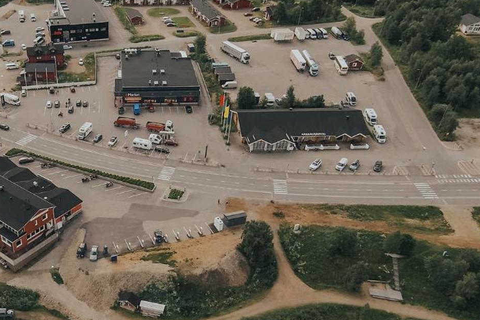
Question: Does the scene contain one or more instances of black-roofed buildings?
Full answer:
Yes, you can see a black-roofed building in this photo.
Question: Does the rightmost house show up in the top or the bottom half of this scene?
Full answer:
It is in the top half that the rightmost house appears.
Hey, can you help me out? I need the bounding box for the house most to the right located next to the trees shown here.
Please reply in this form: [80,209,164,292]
[448,13,480,38]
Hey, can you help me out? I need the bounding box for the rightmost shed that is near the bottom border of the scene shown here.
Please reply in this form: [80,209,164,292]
[143,301,167,320]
